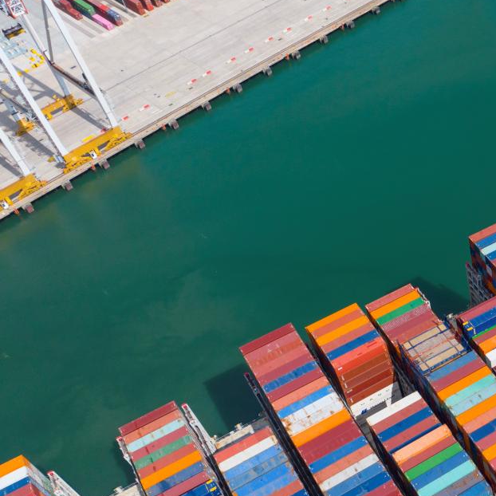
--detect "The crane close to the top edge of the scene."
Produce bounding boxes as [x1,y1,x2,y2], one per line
[0,0,132,170]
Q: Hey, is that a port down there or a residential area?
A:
port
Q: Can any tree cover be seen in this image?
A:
No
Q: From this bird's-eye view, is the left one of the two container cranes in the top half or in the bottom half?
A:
top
